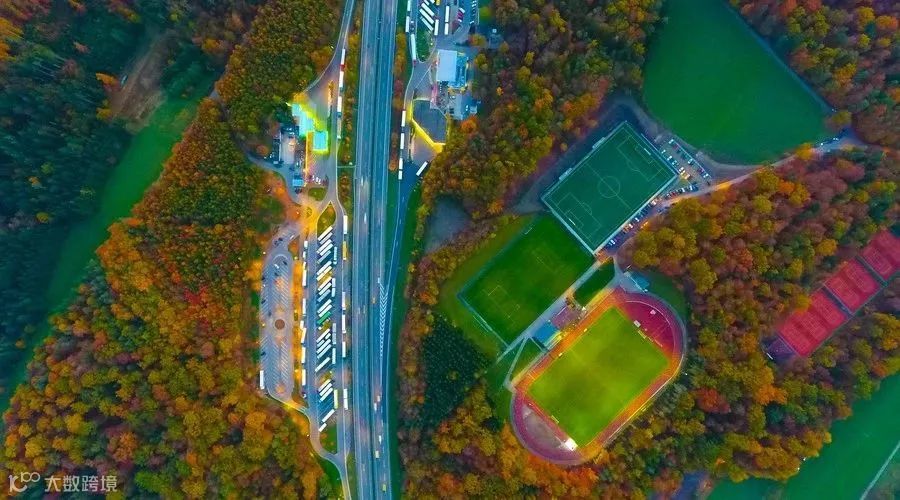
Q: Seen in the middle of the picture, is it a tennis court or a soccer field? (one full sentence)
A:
You can see a soccer field in the middle of the picture.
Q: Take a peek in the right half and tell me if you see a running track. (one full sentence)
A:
Yes, I can see a running track in the right half.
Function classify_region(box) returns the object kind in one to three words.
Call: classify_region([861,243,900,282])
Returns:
tennis court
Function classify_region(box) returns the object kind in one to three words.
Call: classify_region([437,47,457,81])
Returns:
building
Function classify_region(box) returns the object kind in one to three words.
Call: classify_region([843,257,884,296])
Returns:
tennis court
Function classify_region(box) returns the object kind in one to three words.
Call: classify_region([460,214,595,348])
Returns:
soccer field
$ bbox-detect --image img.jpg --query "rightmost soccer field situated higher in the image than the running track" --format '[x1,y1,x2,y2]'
[541,120,679,254]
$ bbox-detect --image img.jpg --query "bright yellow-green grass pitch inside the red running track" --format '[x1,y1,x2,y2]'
[529,311,669,448]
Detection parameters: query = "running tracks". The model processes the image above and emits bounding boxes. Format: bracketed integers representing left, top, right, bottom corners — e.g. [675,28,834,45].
[512,294,686,465]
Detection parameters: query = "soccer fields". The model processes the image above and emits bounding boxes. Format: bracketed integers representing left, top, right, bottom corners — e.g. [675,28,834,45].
[460,214,595,348]
[529,311,669,448]
[541,120,679,254]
